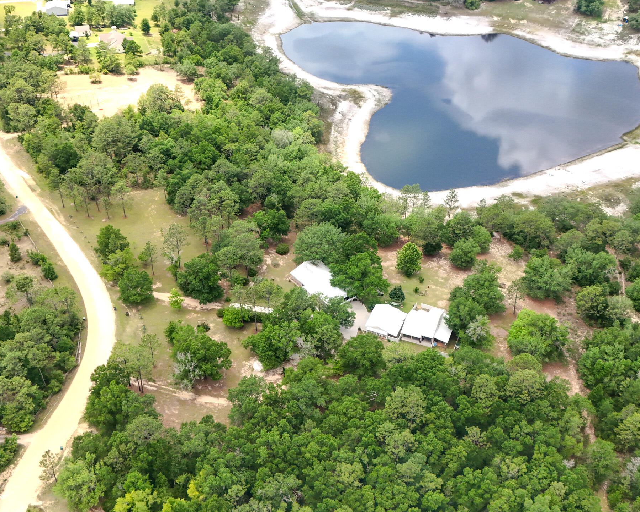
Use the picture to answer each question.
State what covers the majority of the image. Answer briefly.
trees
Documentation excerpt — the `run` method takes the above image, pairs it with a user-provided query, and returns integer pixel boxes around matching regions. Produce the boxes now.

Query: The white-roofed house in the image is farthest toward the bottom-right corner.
[401,307,456,349]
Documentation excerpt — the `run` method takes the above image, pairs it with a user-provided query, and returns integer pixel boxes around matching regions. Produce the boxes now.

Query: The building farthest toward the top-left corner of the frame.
[44,0,69,21]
